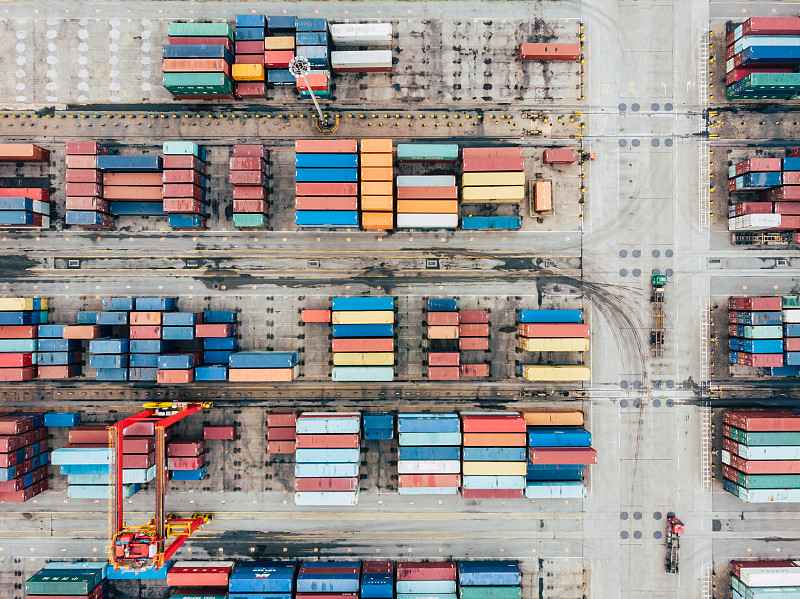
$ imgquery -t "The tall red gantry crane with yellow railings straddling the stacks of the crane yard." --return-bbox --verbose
[102,401,216,574]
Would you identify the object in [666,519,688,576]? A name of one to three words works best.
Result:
truck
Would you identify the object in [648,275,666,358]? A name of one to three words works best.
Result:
vehicle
